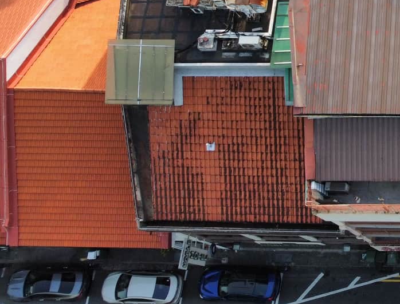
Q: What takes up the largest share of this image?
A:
buildings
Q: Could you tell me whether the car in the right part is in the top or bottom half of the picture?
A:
bottom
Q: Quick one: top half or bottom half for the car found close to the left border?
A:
bottom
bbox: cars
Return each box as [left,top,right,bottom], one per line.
[100,267,187,304]
[4,266,95,304]
[199,265,285,304]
